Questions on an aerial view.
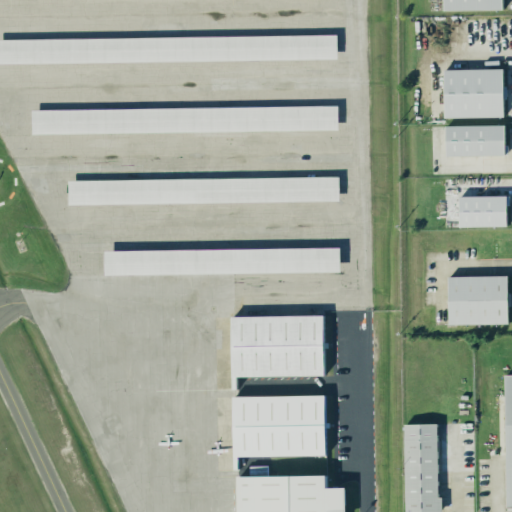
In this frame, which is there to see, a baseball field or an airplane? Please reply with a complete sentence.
The image shows an airplane.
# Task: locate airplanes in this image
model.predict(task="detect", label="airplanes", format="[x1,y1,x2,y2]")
[158,432,180,448]
[208,441,230,457]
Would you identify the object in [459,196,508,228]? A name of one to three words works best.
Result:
building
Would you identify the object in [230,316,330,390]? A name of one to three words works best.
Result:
hangar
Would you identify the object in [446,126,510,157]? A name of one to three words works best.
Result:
building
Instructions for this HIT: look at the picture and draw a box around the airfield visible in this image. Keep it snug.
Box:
[0,0,373,512]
